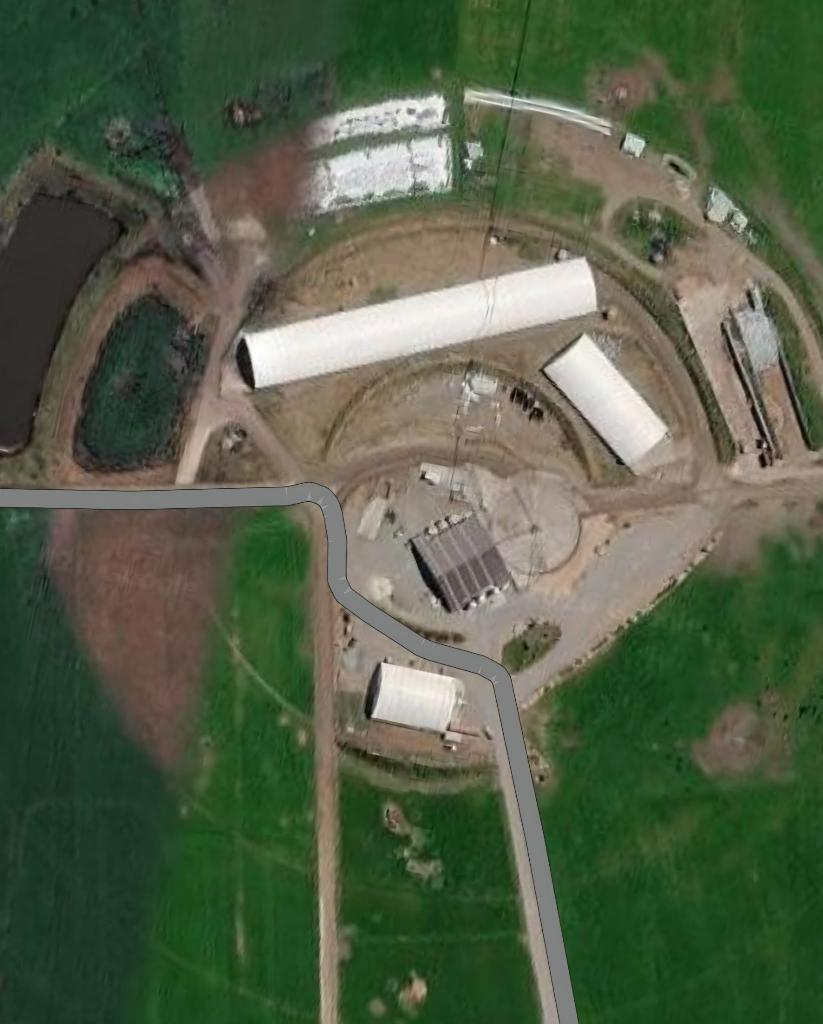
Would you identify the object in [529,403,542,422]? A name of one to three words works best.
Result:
vehicle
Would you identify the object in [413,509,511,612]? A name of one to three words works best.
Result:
building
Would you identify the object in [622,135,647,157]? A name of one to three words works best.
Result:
shed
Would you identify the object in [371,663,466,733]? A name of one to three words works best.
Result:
barn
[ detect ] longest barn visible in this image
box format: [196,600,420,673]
[245,259,598,388]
